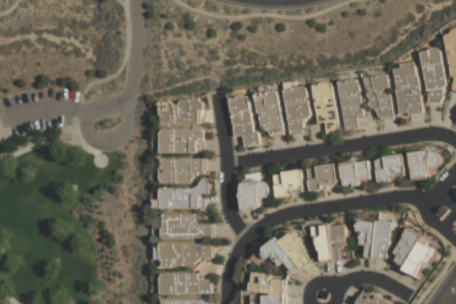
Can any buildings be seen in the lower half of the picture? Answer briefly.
Yes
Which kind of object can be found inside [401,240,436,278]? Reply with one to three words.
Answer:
house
